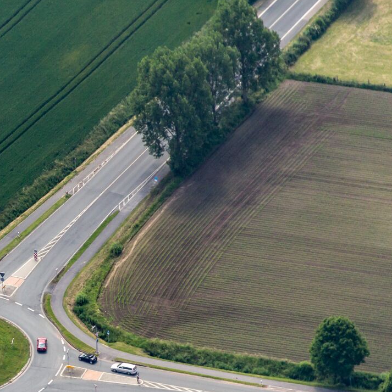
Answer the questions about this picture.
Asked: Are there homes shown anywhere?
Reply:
No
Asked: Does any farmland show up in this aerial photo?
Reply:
Yes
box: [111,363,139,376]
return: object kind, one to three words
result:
vehicle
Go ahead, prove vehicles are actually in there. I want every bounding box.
[76,351,101,364]
[111,363,139,376]
[37,339,47,353]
